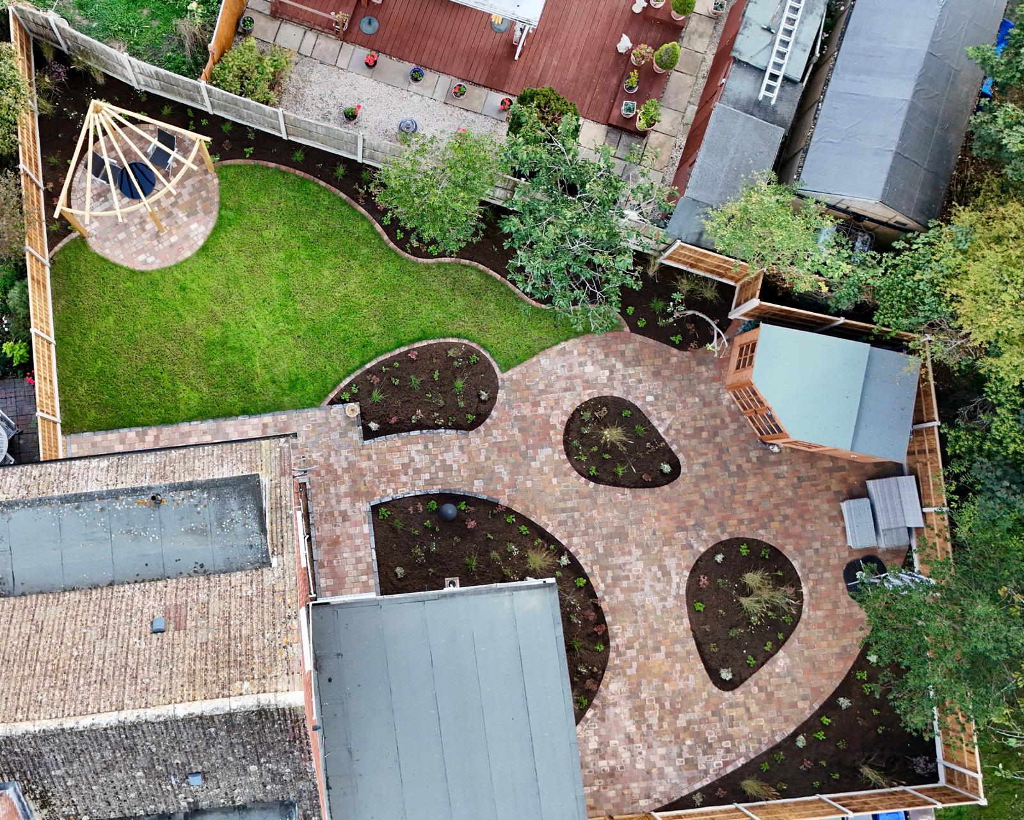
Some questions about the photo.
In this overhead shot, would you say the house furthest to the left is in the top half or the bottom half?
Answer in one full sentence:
You can find the house furthest to the left in the bottom half.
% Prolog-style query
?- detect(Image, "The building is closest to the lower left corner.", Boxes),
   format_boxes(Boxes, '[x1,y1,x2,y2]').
[0,432,330,820]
